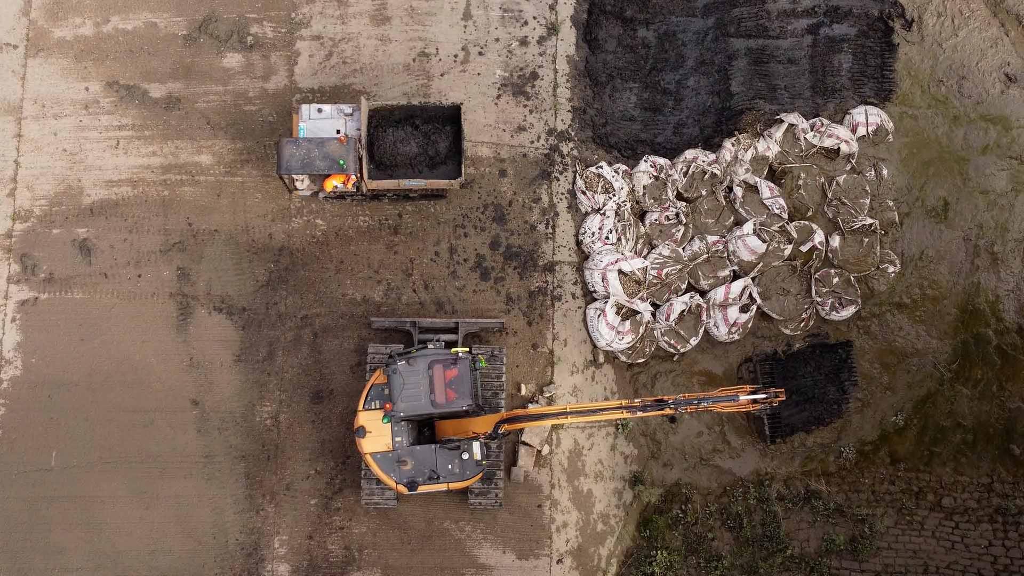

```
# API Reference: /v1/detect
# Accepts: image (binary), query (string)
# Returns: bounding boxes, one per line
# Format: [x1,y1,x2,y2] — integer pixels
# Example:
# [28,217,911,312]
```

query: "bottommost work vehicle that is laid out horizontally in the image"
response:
[355,319,795,508]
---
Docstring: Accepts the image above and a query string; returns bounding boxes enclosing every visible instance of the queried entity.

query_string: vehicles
[277,97,466,203]
[355,319,795,508]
